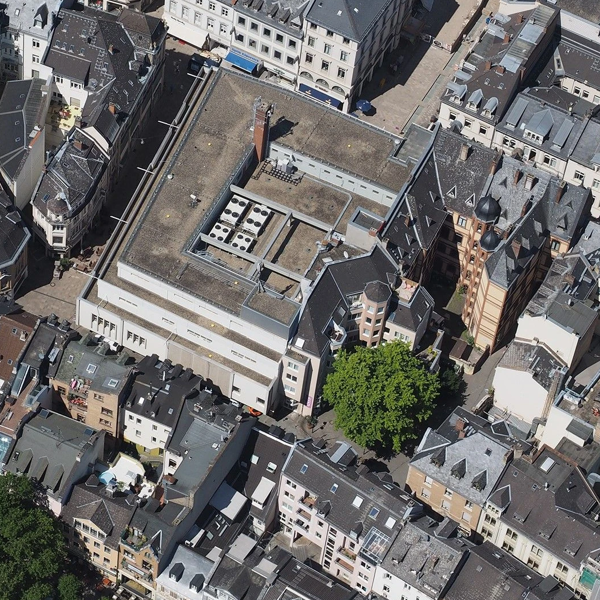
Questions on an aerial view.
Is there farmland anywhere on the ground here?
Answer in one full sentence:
No, the scene doesn't show any farmland.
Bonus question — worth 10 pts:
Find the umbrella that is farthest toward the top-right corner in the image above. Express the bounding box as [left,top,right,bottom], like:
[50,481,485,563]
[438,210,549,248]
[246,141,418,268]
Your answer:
[358,102,374,116]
